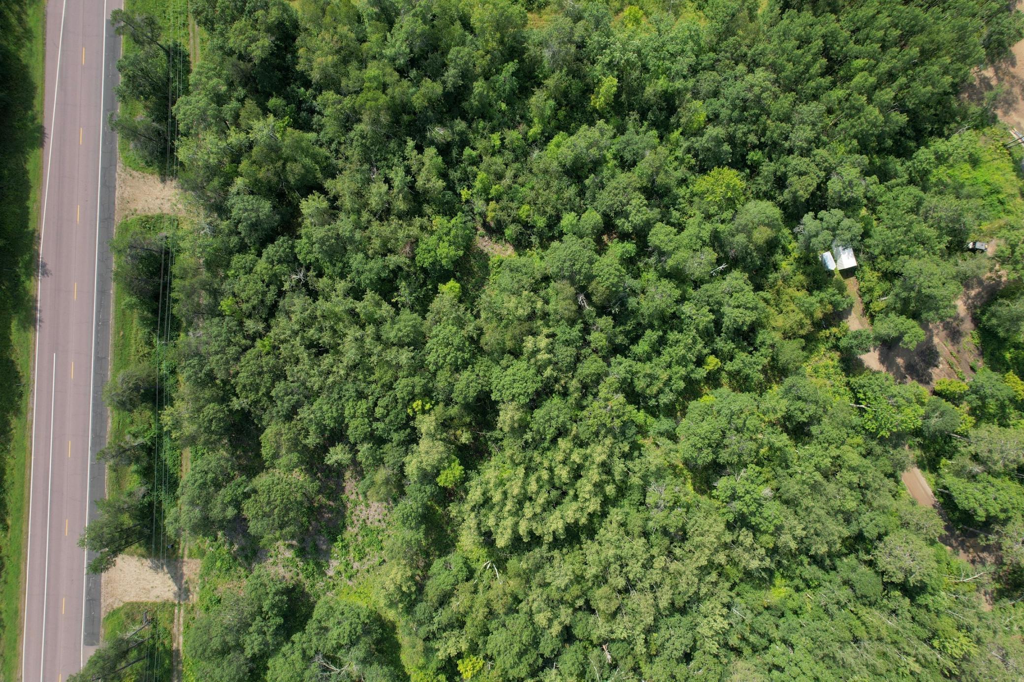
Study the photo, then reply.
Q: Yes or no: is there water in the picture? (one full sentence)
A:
No, the scene doesn't show any water.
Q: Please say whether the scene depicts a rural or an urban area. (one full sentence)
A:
The area is rural.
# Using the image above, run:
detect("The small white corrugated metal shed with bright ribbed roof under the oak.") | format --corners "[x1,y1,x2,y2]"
[827,240,858,273]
